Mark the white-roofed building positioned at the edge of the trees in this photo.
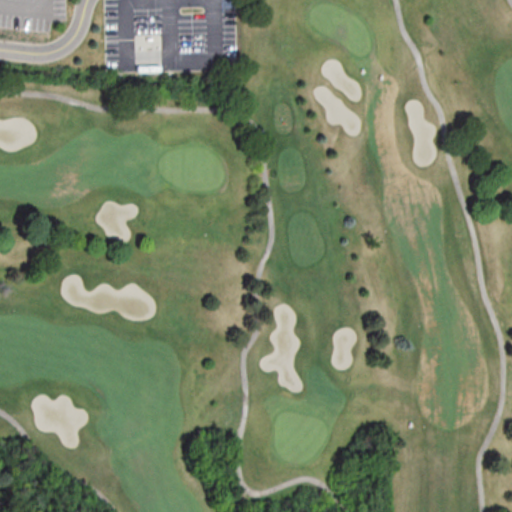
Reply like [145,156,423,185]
[134,35,163,74]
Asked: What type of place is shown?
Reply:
golf course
